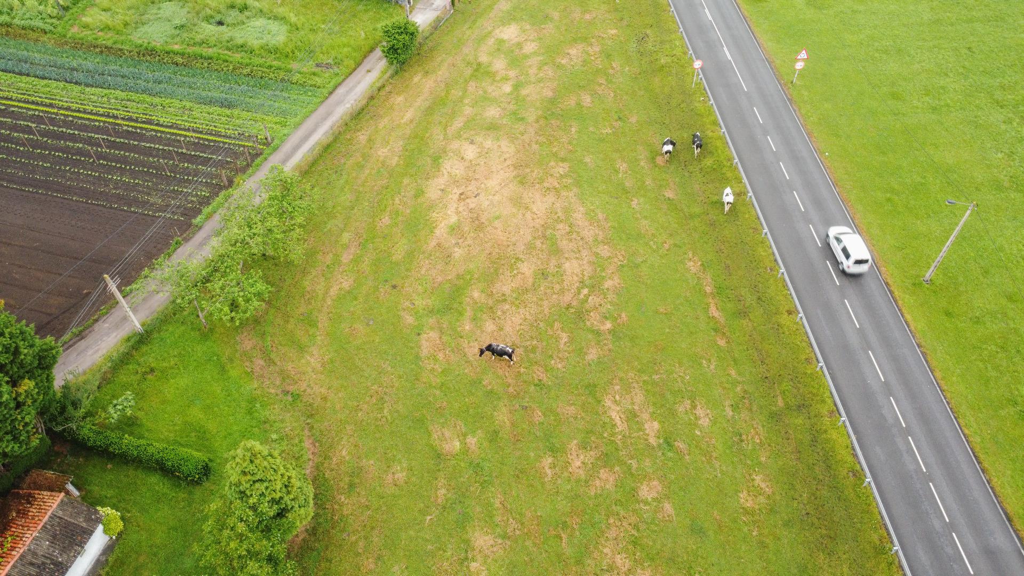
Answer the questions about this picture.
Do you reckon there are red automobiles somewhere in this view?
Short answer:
No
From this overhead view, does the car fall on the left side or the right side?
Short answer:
right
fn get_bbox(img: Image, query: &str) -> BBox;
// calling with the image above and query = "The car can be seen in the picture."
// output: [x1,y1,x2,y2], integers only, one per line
[830,227,877,274]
